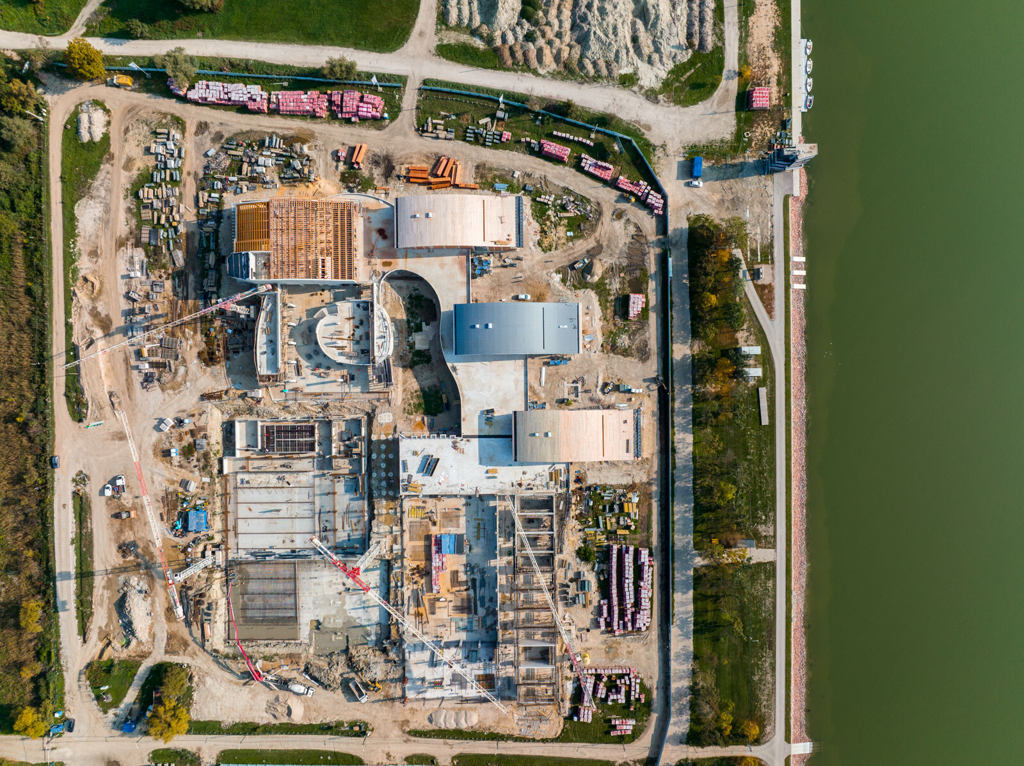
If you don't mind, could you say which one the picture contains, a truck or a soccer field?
truck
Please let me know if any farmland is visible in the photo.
No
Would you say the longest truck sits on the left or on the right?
left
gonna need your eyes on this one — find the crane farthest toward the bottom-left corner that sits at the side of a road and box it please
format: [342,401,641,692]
[116,410,225,623]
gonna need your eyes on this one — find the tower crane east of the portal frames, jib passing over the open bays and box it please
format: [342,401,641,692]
[507,498,597,714]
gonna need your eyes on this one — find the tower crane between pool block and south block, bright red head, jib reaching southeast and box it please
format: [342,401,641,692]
[308,534,510,717]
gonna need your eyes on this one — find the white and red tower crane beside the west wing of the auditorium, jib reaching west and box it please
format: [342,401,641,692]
[58,282,276,370]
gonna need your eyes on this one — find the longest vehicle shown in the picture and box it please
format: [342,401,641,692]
[227,580,288,696]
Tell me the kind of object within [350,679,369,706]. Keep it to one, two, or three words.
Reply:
vehicle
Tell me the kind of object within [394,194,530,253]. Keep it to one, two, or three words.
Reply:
building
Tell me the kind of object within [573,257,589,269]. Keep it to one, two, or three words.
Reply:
vehicle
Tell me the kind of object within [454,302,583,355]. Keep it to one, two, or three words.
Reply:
building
